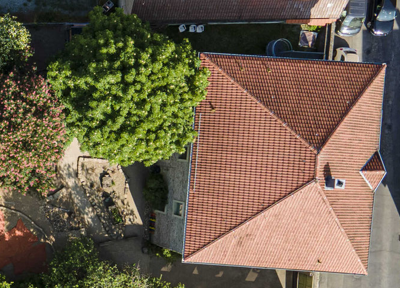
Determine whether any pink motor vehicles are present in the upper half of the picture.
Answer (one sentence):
No, the scene shows no pink motor vehicle in the upper half of the picture.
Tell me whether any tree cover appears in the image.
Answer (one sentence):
Yes, tree cover shows up in the scene.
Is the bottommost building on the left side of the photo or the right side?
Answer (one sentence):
The bottommost building is on the right side of the image.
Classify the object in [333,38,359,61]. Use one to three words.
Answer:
car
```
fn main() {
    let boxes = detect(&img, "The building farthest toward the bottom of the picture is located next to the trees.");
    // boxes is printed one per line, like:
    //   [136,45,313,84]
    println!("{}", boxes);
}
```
[149,51,389,277]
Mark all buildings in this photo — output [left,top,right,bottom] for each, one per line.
[118,0,350,27]
[149,51,389,277]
